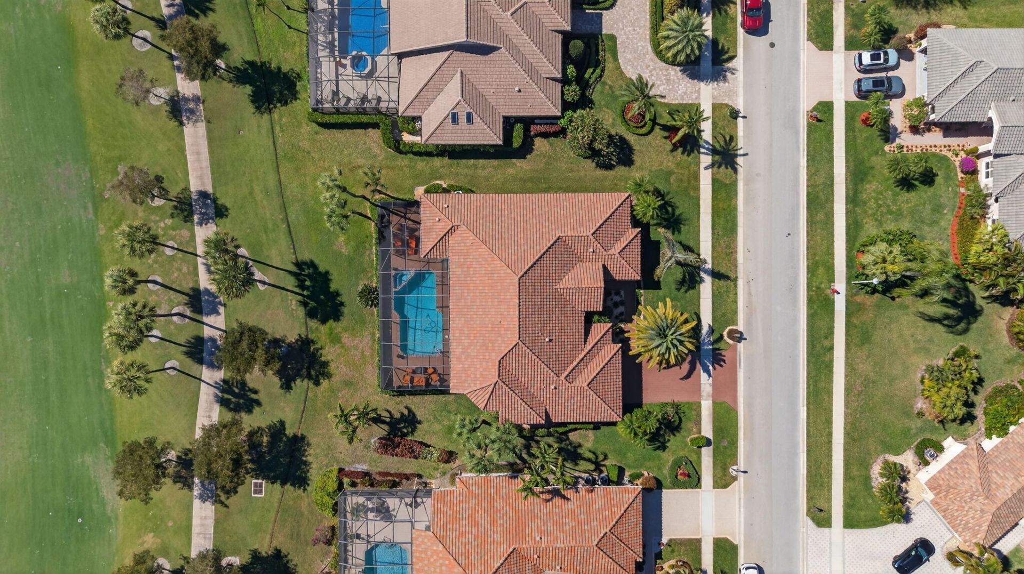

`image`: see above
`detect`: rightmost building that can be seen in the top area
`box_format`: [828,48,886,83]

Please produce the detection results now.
[914,27,1024,249]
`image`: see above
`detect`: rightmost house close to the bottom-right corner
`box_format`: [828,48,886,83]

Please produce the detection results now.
[915,408,1024,556]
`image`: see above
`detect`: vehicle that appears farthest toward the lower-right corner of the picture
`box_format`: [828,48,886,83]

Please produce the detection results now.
[889,536,932,574]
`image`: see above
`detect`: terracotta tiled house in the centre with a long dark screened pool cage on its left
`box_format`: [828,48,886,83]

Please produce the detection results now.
[419,192,643,424]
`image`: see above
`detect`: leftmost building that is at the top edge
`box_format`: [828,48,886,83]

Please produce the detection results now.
[389,0,572,146]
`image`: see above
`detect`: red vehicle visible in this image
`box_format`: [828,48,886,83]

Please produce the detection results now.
[741,0,767,32]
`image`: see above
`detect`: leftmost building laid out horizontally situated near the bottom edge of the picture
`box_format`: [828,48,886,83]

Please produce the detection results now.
[413,474,642,574]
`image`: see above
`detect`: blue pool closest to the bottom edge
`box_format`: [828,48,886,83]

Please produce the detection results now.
[363,543,409,574]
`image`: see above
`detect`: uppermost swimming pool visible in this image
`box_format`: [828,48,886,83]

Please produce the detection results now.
[335,0,390,56]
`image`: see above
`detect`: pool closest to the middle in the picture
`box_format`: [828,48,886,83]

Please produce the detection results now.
[392,269,444,357]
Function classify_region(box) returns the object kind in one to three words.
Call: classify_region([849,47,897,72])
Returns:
car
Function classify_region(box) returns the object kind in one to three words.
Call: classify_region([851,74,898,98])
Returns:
car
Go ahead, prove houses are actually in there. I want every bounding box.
[914,27,1024,249]
[915,408,1024,556]
[389,0,572,146]
[419,192,643,424]
[413,474,642,574]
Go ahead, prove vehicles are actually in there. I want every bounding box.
[889,536,932,574]
[851,74,898,98]
[741,0,767,32]
[849,47,897,72]
[737,560,758,574]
